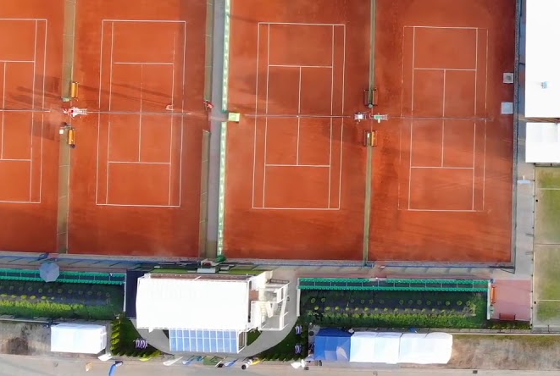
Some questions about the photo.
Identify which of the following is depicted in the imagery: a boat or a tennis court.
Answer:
tennis court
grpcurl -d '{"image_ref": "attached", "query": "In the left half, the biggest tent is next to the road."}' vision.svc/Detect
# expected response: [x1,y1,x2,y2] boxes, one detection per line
[52,318,113,355]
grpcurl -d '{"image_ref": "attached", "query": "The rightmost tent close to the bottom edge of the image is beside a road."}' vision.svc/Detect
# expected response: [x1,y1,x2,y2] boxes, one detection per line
[400,327,453,363]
